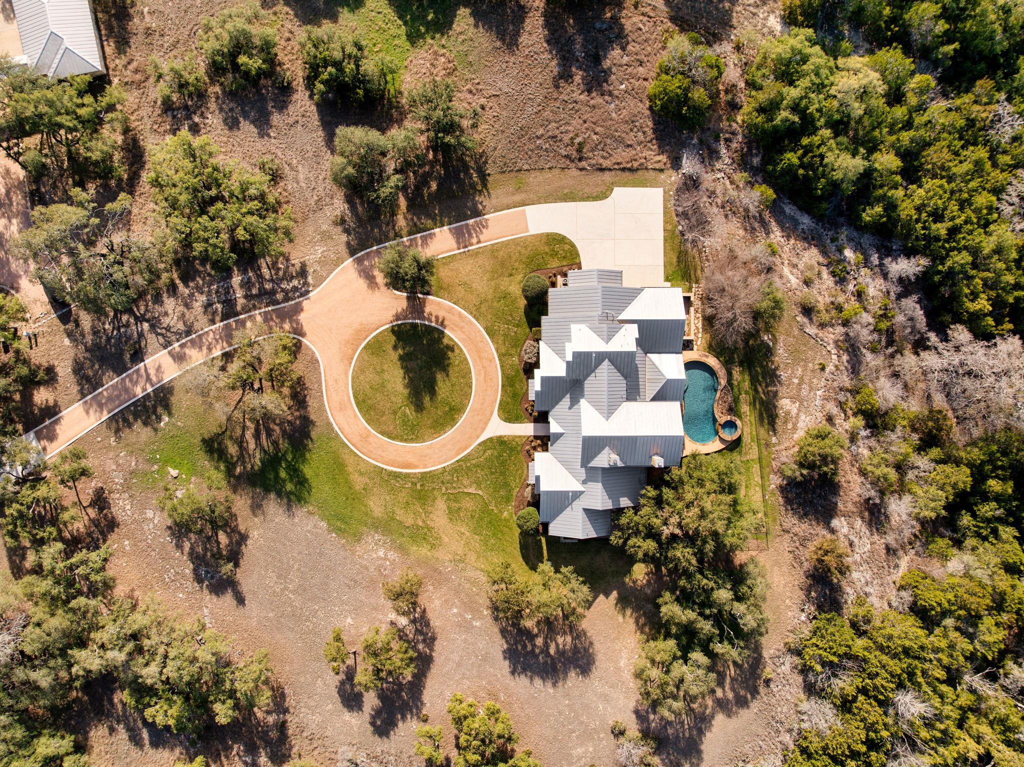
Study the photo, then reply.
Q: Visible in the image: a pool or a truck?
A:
pool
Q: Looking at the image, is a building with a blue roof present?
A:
No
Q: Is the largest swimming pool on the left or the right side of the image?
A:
right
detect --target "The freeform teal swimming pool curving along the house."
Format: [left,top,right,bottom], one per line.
[681,357,722,446]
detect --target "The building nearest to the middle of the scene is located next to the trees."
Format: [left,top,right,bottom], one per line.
[528,268,687,539]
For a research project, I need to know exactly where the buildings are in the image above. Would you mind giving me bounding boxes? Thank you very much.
[12,0,109,82]
[528,268,687,539]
